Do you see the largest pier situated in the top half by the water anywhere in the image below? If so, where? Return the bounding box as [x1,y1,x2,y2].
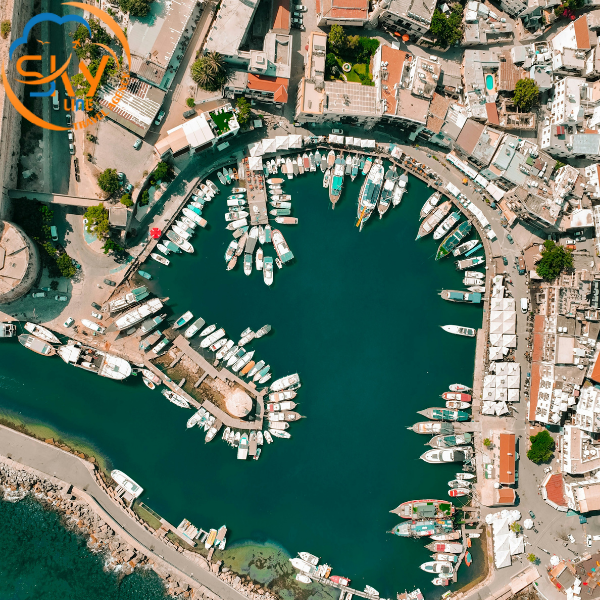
[247,156,268,226]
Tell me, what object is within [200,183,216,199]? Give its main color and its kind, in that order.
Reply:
white boat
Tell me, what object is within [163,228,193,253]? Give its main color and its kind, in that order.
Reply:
white boat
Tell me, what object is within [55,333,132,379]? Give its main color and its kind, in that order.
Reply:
white ship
